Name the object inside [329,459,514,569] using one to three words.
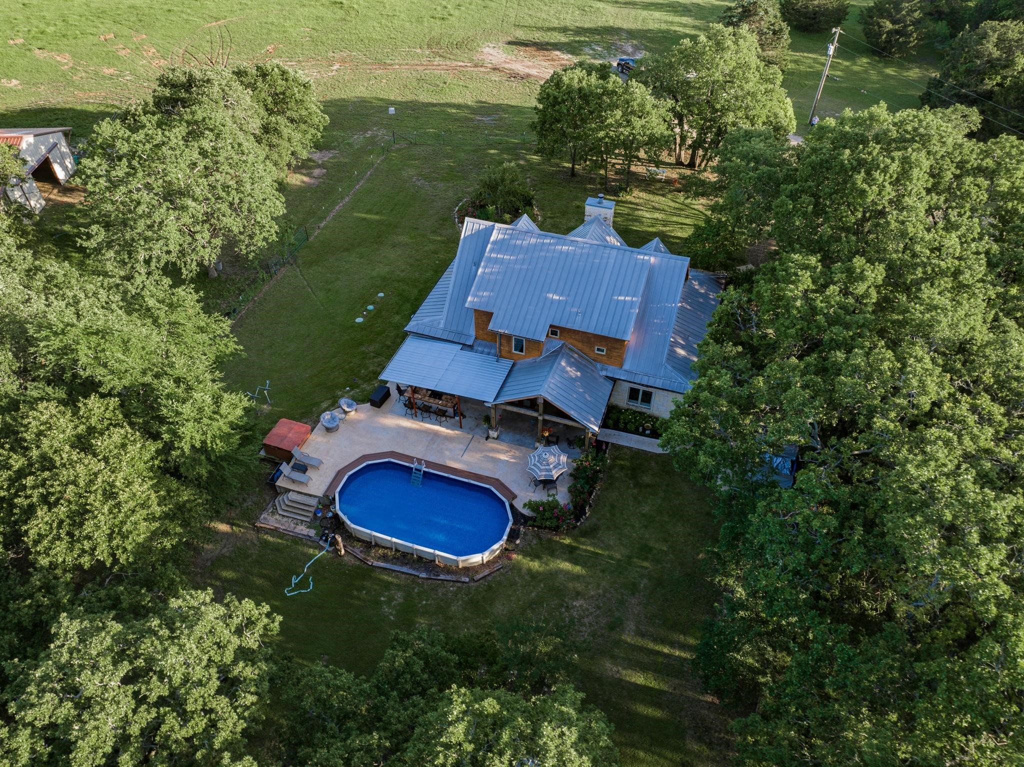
swimming pool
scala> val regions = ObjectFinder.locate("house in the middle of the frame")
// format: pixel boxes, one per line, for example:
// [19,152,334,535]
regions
[402,195,725,458]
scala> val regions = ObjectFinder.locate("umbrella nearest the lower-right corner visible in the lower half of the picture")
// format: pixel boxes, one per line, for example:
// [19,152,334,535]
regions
[524,445,569,486]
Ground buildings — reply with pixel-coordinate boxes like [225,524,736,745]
[402,195,725,458]
[0,129,79,217]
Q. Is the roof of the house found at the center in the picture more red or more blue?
blue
